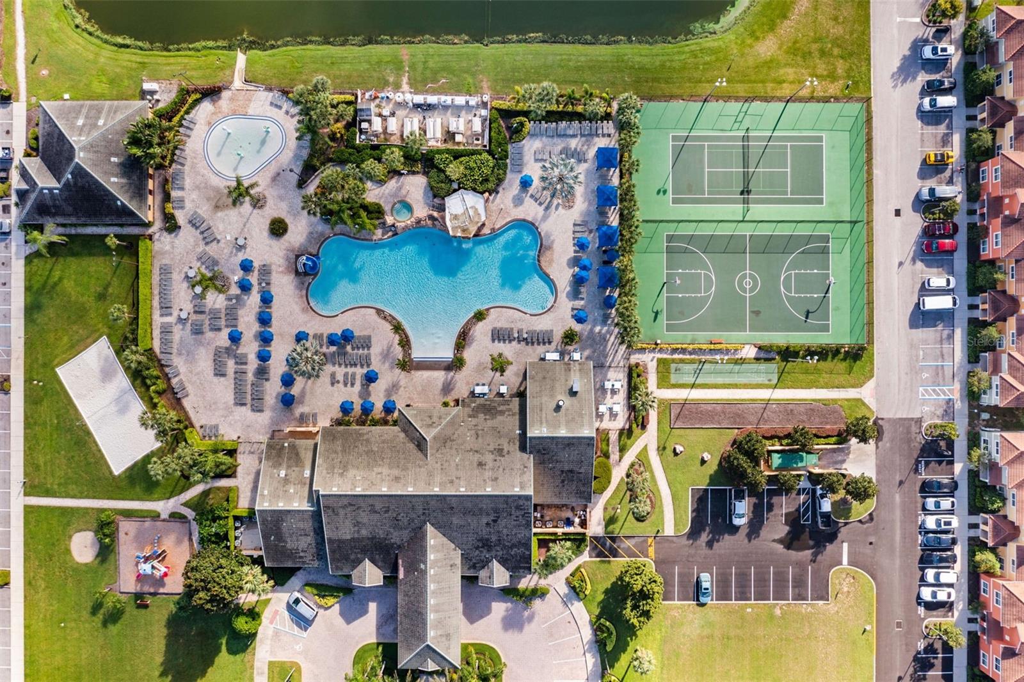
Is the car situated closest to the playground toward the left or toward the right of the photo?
left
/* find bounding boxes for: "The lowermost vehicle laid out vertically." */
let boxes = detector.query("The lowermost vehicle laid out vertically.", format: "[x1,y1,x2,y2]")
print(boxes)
[697,572,712,604]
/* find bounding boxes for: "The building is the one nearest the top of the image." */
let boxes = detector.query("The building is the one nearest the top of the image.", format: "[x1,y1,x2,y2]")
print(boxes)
[977,5,1024,73]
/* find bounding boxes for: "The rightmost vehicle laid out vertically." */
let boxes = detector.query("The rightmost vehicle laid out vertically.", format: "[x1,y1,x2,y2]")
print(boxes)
[815,490,832,530]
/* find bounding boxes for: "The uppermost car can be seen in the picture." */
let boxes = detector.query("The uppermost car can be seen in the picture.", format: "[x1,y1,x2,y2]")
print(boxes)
[920,44,955,60]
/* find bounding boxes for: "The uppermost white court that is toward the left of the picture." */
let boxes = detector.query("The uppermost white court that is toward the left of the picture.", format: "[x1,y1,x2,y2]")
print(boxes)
[55,337,161,475]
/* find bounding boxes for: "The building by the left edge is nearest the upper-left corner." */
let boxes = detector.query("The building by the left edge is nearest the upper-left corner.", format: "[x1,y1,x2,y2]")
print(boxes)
[5,101,155,223]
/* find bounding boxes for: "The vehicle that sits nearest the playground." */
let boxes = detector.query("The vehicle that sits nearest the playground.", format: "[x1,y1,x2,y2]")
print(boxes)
[288,591,317,621]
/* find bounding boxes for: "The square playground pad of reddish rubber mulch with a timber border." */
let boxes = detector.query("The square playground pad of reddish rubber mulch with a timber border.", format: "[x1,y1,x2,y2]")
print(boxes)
[116,519,191,595]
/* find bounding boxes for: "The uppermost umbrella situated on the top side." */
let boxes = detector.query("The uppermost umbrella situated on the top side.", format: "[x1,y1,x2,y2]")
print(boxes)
[519,174,533,188]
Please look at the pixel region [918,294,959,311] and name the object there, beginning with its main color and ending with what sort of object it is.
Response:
white vehicle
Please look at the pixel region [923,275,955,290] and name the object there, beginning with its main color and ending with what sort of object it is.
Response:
white car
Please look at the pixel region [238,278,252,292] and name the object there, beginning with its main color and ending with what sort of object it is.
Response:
blue umbrella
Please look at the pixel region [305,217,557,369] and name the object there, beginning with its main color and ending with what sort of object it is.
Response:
blue swimming pool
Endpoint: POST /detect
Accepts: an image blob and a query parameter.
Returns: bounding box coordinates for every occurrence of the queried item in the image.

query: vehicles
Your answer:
[923,479,957,494]
[920,95,956,111]
[921,185,956,200]
[923,275,955,290]
[918,294,959,311]
[923,221,957,237]
[697,572,712,604]
[815,490,832,530]
[288,591,317,621]
[923,569,957,585]
[924,150,955,165]
[919,587,954,603]
[923,515,958,531]
[921,239,957,254]
[732,486,748,524]
[920,44,955,60]
[921,552,956,567]
[923,534,957,549]
[923,77,956,93]
[923,497,956,512]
